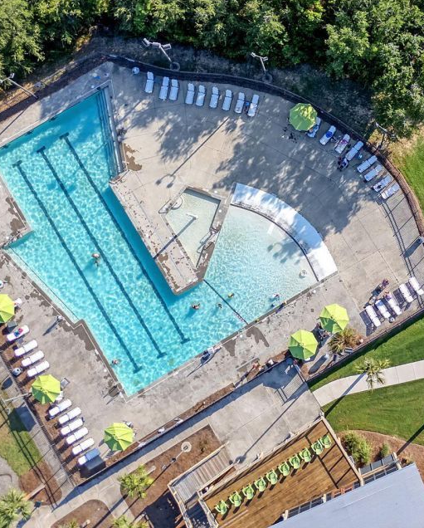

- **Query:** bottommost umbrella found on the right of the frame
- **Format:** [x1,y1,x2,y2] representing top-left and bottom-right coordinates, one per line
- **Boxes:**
[287,329,318,359]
